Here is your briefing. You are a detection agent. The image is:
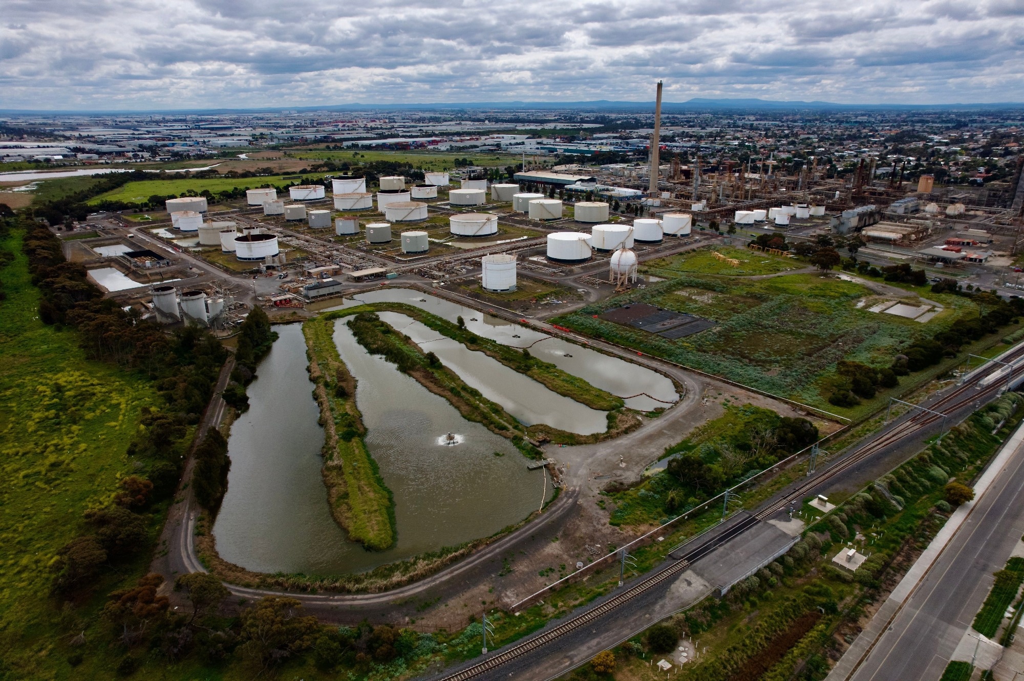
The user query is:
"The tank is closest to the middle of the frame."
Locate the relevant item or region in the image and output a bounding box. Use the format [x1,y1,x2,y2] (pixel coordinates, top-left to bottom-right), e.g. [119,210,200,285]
[479,254,519,293]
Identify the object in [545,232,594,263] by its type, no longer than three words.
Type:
storage tank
